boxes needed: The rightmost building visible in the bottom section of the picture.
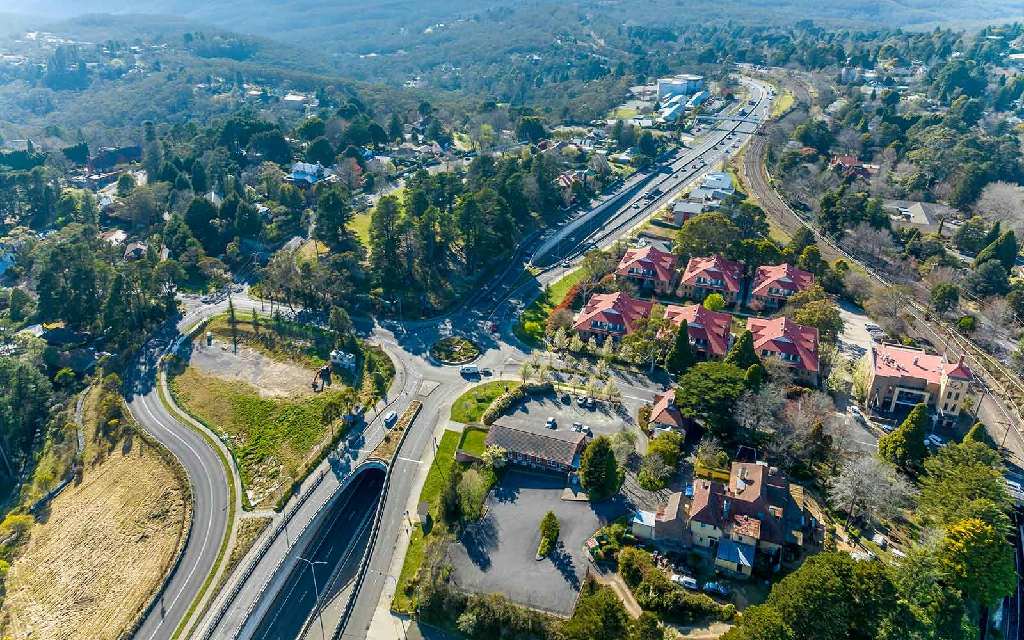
[855,345,972,427]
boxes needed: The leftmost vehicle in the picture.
[303,370,329,387]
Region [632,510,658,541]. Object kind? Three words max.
shed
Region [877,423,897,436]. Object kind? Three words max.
vehicle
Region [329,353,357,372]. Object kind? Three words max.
building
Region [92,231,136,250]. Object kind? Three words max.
house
